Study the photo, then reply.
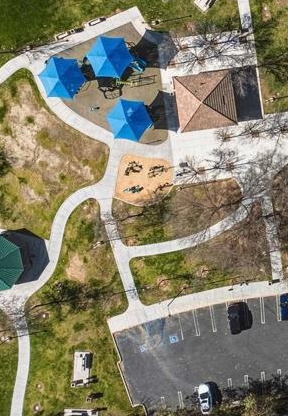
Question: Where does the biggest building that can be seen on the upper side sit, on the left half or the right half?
right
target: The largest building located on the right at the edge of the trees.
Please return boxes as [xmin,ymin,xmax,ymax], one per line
[172,69,237,132]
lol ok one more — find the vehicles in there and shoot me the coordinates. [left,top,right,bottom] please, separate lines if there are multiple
[195,385,212,416]
[277,294,288,323]
[225,303,242,337]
